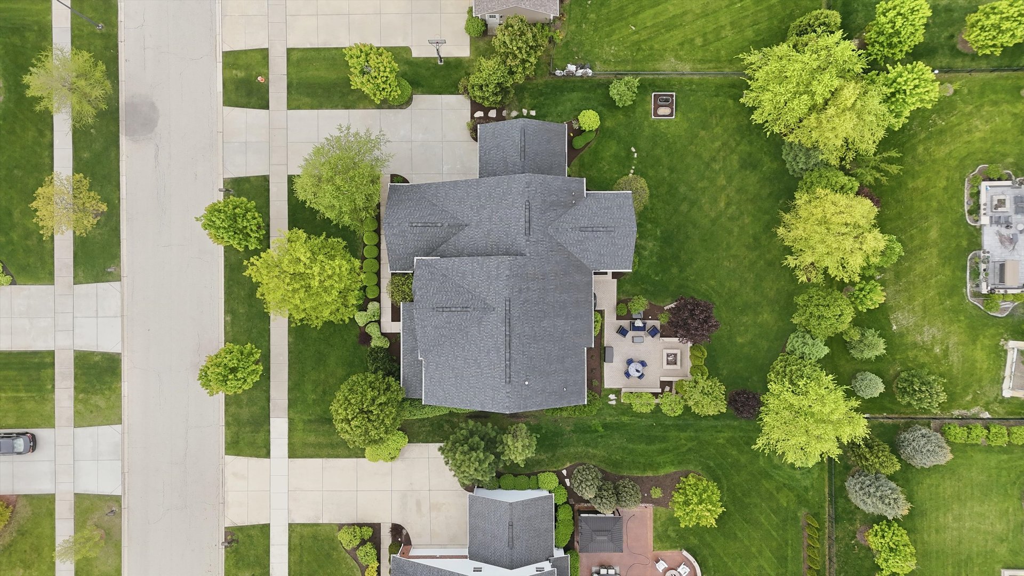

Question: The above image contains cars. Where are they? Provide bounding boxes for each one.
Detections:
[0,431,36,456]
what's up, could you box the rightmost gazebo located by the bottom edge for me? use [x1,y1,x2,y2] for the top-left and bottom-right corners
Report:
[577,510,623,554]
